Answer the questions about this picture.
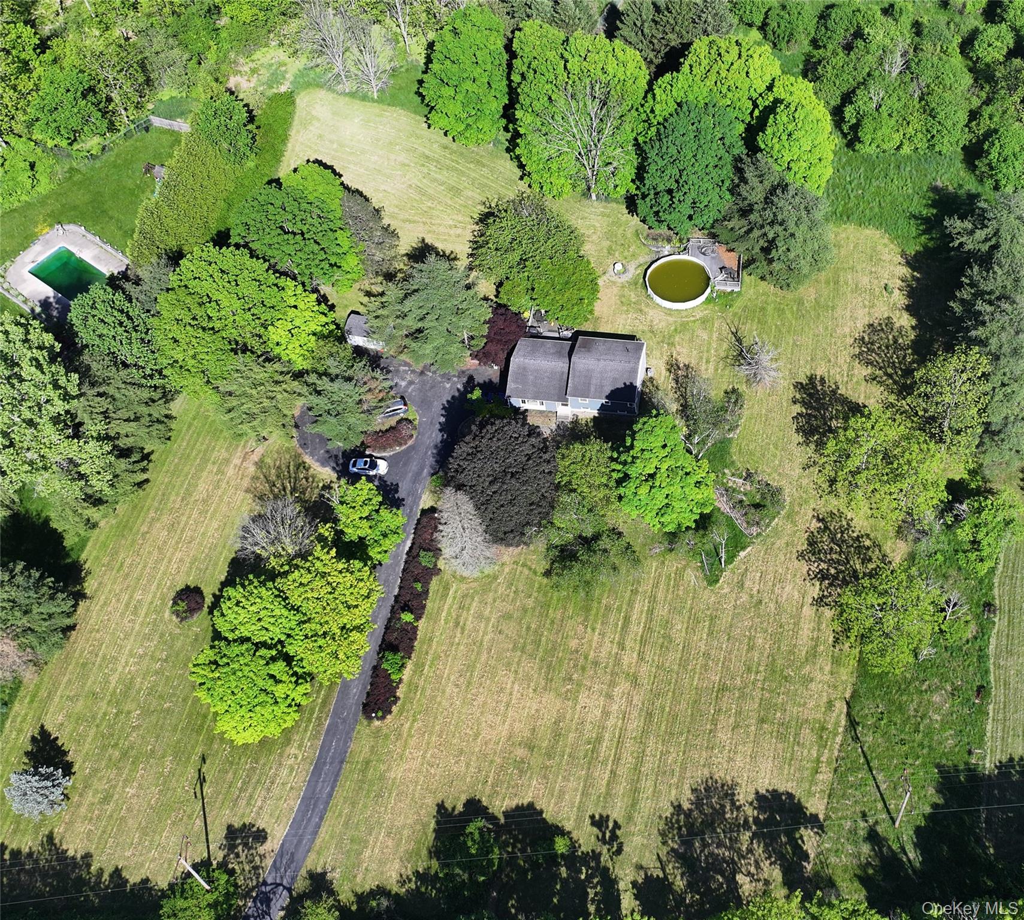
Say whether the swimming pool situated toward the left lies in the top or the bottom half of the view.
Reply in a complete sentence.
It is in the top half that the swimming pool situated toward the left appears.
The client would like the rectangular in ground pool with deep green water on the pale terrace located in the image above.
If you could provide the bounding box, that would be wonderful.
[23,242,109,304]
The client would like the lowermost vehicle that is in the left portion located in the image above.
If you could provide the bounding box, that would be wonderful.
[347,459,390,478]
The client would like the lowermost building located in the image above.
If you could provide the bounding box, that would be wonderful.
[505,336,647,429]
